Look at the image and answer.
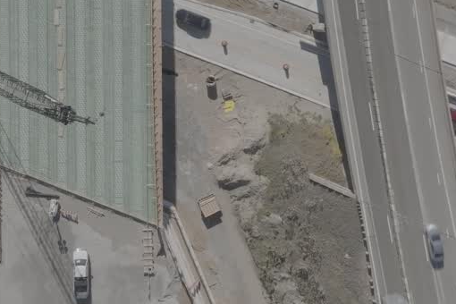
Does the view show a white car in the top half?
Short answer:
No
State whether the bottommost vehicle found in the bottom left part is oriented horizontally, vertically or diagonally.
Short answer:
vertically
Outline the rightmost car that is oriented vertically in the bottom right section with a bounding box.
[424,224,445,265]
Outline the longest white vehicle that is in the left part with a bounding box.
[72,246,92,298]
